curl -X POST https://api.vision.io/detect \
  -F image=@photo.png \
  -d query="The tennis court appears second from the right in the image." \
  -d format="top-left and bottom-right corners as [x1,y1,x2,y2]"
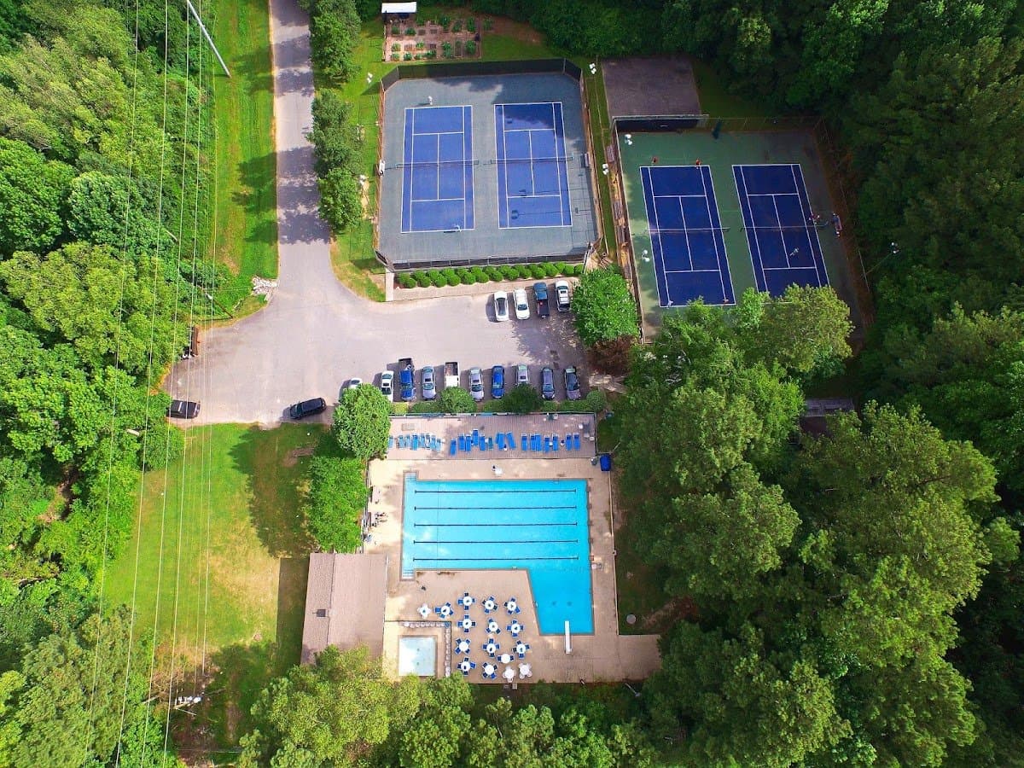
[640,166,733,306]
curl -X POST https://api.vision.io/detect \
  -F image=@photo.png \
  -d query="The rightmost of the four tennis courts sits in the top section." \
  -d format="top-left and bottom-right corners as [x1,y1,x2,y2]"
[731,163,832,301]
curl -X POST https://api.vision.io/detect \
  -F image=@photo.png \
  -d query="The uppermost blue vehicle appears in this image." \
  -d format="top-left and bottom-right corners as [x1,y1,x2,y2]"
[534,281,551,318]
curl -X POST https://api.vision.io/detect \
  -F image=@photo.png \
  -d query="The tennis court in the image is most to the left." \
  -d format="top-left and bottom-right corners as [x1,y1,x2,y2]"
[395,105,480,233]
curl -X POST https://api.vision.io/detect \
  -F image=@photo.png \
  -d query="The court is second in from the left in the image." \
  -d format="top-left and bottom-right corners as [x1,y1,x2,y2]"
[490,102,574,229]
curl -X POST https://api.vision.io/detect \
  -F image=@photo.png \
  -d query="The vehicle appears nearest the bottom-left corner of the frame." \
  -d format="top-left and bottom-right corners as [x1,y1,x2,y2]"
[161,399,205,418]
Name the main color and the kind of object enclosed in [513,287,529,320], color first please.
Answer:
white car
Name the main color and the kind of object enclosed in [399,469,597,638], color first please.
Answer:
blue swimming pool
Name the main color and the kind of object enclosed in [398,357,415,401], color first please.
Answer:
blue vehicle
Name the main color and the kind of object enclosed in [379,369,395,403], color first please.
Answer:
white car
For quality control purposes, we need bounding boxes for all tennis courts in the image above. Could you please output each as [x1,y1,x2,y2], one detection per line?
[640,166,733,306]
[731,163,832,301]
[490,102,574,229]
[395,105,480,233]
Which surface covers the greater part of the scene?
trees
